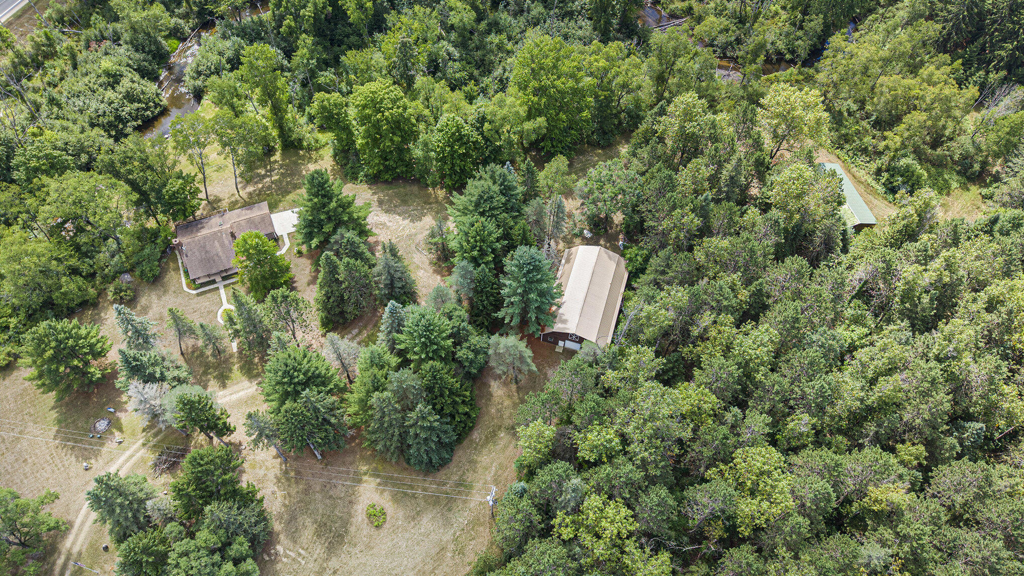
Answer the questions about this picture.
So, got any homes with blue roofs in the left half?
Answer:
No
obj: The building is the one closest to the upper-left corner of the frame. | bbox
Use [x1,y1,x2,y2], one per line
[172,201,278,286]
